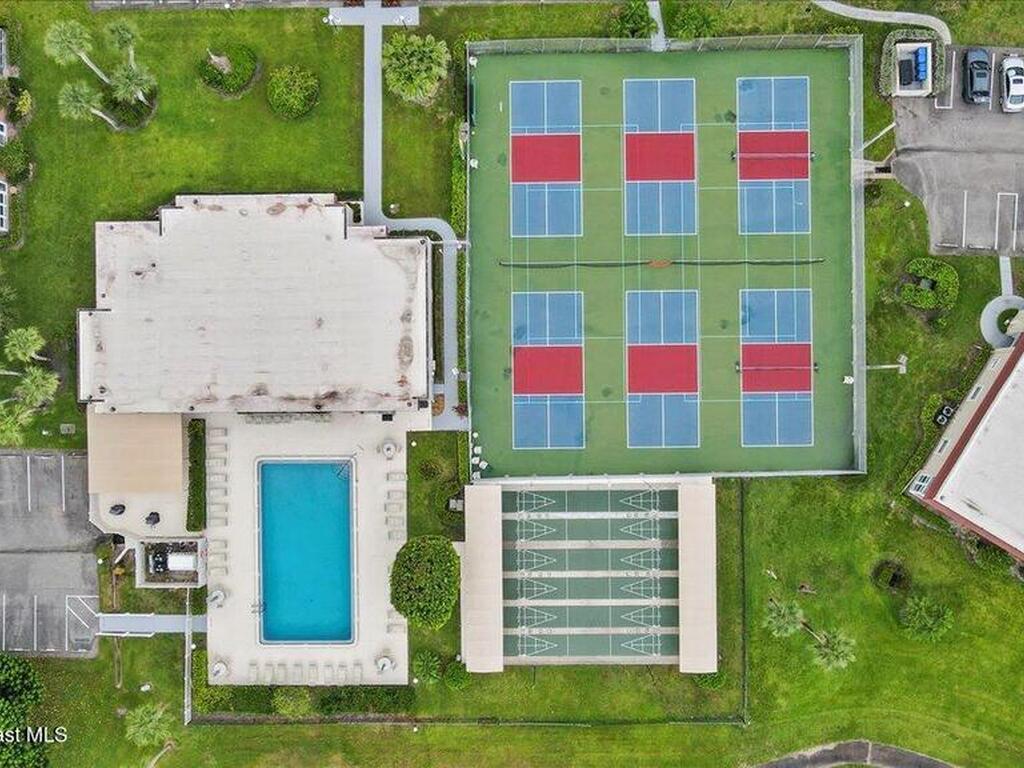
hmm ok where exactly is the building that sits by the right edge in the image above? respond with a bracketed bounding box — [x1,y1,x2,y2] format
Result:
[905,300,1024,568]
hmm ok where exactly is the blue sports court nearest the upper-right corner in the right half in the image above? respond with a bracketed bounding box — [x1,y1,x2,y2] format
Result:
[738,76,811,233]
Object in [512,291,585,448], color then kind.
blue sports court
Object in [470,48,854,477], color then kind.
green tennis court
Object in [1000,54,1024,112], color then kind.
white car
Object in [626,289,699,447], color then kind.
blue sports court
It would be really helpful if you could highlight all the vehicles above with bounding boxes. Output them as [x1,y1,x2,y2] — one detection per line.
[960,49,994,106]
[1000,54,1024,112]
